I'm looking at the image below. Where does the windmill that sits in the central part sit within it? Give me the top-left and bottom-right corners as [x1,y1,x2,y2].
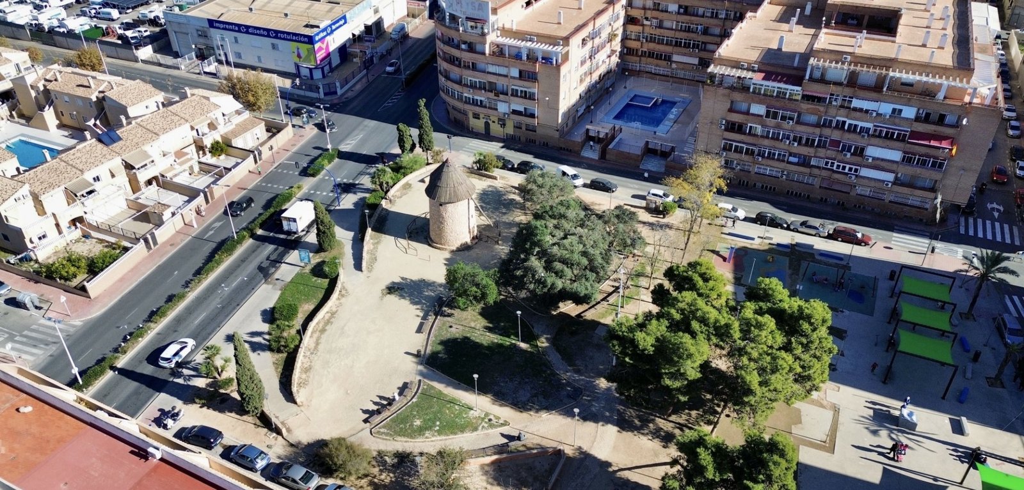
[424,160,493,251]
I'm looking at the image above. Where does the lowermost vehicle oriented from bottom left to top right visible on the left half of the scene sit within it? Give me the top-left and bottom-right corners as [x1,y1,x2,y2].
[160,338,197,365]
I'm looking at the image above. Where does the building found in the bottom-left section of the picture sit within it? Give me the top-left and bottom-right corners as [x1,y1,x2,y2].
[0,354,289,490]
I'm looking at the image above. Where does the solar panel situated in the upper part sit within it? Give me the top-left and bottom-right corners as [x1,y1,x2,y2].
[96,130,125,146]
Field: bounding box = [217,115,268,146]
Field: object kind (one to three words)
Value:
building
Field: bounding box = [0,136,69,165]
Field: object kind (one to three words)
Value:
swimming pool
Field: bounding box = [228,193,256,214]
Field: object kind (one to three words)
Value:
car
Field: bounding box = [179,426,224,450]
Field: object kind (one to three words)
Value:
car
